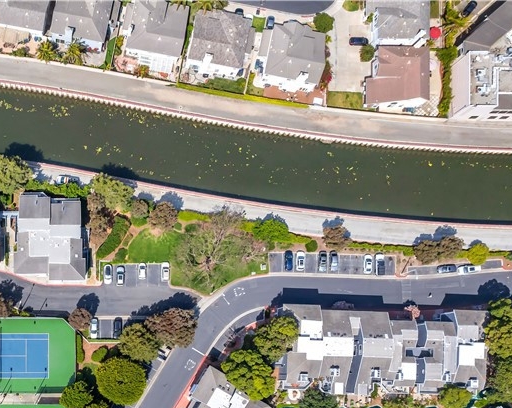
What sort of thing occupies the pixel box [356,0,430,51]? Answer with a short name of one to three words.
house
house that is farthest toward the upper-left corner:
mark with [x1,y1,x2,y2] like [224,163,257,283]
[0,0,55,48]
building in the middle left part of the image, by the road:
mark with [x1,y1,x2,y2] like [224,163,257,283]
[13,192,86,283]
